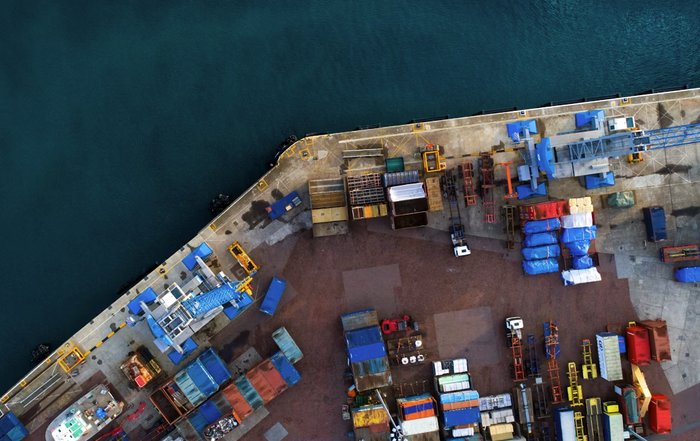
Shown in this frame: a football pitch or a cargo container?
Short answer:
cargo container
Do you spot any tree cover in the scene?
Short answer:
No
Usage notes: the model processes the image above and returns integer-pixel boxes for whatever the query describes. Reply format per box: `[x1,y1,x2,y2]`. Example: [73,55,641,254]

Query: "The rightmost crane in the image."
[505,110,700,200]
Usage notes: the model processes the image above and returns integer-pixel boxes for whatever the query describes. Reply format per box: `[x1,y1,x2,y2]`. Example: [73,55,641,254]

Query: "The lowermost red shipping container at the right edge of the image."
[647,389,673,436]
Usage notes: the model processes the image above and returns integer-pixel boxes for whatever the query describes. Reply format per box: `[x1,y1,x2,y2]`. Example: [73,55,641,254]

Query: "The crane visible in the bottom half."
[126,241,258,366]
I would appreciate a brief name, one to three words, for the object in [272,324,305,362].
shipping container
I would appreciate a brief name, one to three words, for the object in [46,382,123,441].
boat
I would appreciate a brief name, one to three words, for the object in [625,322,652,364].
shipping container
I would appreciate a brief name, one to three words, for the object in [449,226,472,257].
truck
